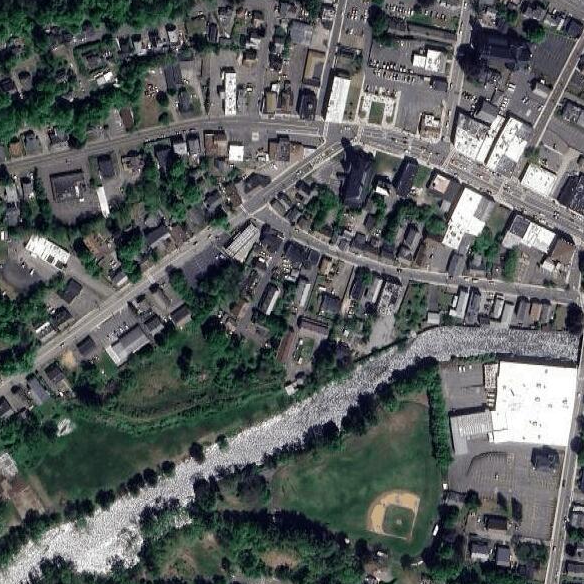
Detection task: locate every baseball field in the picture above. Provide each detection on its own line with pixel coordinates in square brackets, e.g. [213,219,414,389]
[276,429,440,546]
